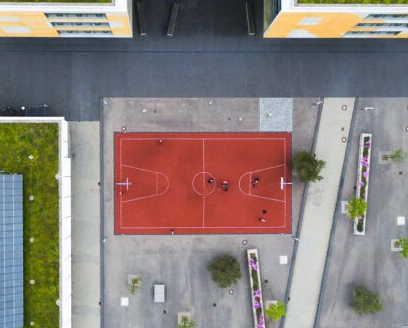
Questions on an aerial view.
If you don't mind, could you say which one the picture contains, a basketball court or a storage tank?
basketball court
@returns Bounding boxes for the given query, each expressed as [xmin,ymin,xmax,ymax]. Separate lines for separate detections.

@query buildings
[264,0,408,38]
[0,117,71,328]
[0,0,132,38]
